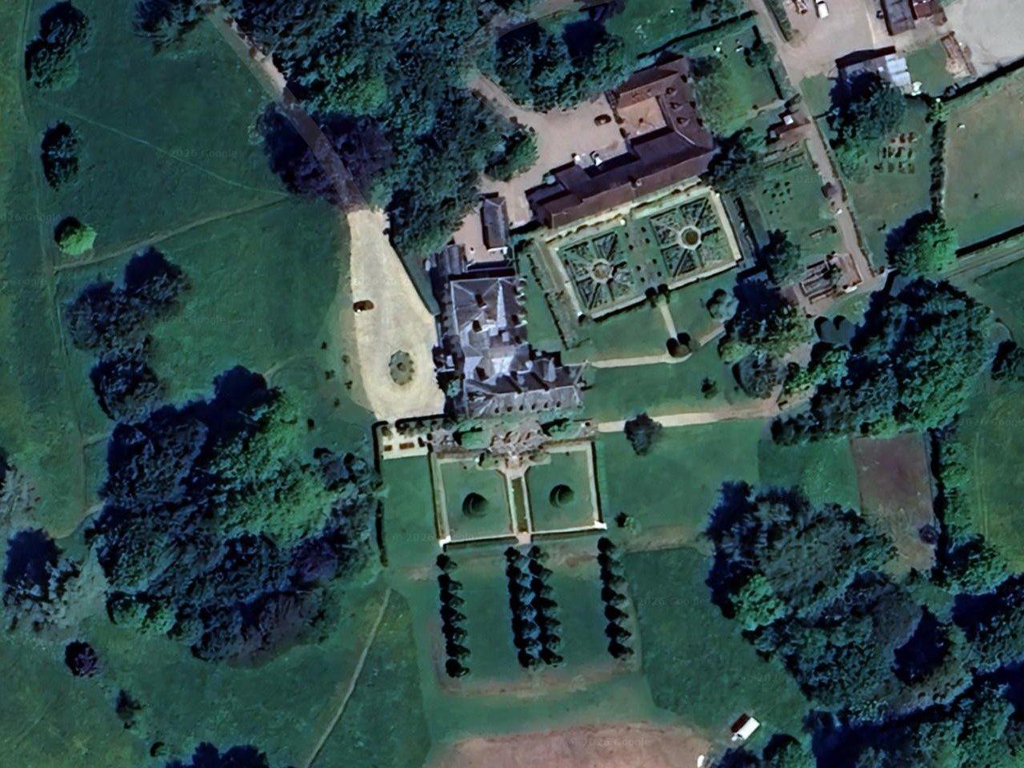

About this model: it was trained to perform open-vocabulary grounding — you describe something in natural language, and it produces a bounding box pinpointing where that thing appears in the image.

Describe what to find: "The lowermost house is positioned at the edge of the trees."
[441,272,586,423]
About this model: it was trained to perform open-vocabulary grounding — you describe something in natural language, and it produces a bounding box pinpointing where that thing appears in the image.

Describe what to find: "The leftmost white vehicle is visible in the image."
[592,152,604,168]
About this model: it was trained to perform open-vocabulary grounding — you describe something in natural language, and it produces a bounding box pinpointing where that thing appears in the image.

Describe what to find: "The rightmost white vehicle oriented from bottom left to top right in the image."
[732,716,759,740]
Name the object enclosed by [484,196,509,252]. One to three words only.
building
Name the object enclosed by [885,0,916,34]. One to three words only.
barn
